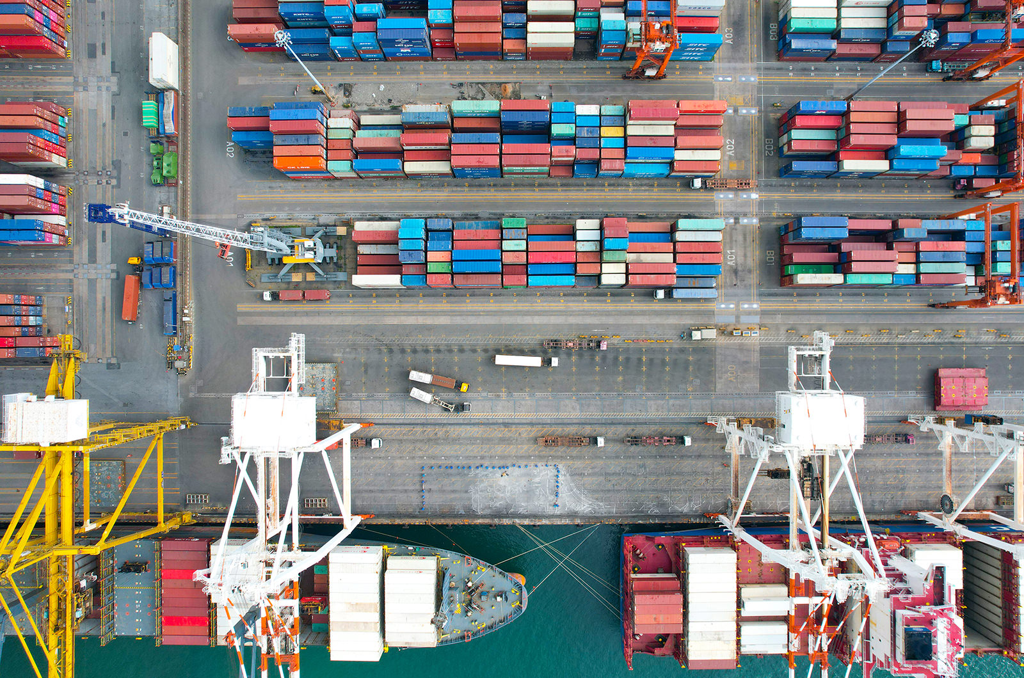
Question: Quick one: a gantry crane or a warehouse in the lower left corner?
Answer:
gantry crane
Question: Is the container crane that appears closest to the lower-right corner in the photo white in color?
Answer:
Yes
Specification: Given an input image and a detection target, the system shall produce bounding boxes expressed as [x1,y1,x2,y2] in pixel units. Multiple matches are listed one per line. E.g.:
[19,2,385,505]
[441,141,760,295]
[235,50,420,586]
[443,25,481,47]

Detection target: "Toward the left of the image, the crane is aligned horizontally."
[112,202,338,278]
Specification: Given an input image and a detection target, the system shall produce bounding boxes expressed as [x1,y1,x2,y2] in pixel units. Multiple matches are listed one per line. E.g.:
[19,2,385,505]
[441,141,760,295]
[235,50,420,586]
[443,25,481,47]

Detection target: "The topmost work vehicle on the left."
[308,82,325,94]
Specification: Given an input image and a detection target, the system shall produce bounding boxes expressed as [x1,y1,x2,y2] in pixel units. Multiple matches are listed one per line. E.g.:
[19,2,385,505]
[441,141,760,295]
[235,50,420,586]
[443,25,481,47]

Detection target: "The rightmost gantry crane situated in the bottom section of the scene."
[900,418,1024,562]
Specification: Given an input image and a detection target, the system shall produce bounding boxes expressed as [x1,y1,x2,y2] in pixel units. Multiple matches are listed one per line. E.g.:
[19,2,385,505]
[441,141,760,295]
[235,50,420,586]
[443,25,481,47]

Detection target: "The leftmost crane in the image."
[0,335,203,678]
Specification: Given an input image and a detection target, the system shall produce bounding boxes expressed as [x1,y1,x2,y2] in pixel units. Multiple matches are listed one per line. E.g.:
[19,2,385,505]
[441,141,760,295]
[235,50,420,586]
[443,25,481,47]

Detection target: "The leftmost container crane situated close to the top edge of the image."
[625,0,682,81]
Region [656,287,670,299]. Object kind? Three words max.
vehicle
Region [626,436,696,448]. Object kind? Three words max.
vehicle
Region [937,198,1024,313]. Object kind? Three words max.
container crane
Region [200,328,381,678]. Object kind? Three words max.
container crane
